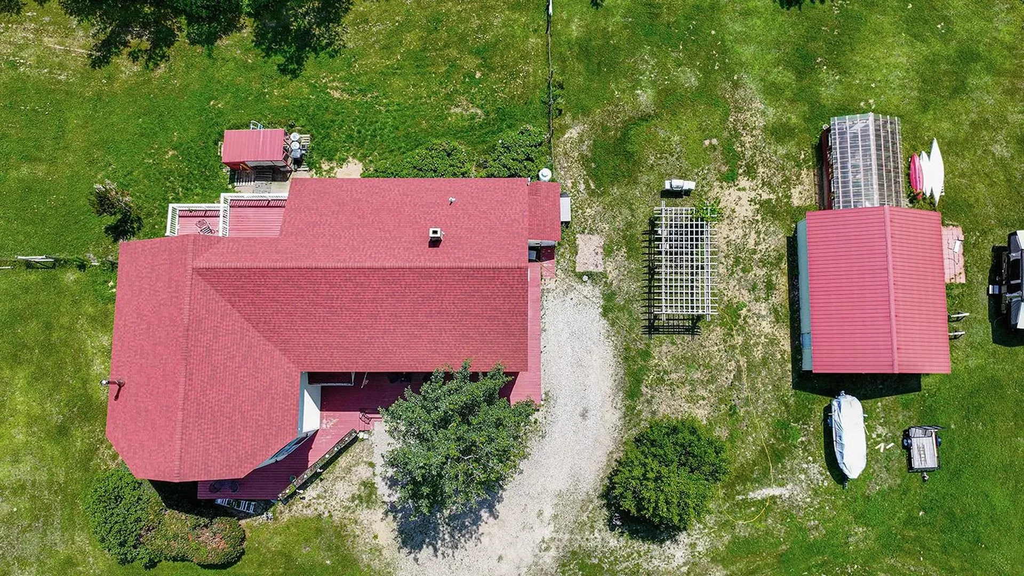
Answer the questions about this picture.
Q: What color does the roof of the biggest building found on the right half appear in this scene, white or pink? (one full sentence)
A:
In this view, the roof of the biggest building found on the right half is pink.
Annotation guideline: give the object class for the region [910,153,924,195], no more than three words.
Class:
boat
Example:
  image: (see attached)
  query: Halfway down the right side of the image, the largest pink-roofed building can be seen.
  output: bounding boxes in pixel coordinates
[797,205,952,374]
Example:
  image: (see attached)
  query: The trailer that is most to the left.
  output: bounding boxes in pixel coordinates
[900,430,944,491]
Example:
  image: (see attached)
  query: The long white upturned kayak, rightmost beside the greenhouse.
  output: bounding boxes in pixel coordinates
[927,138,945,205]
